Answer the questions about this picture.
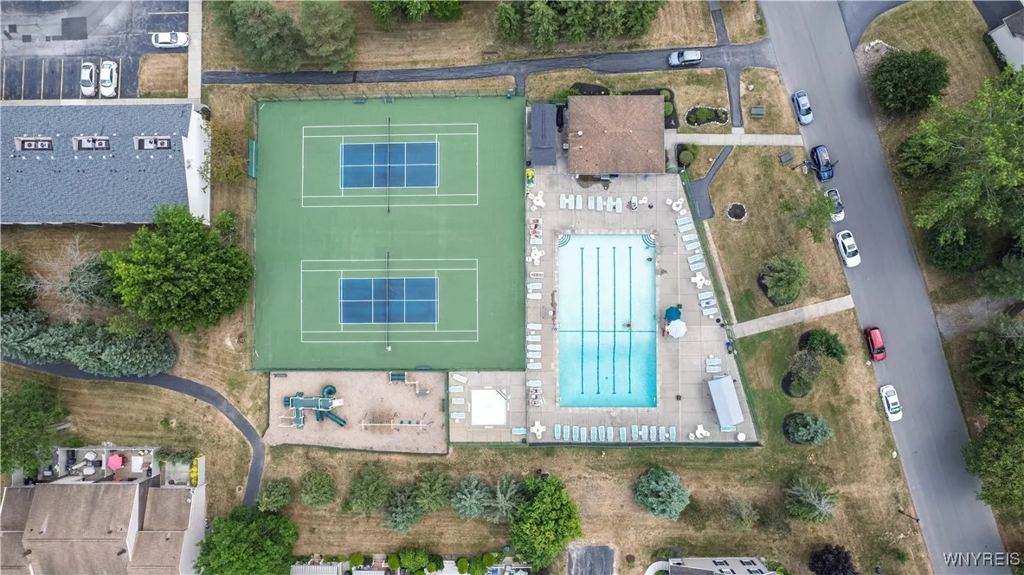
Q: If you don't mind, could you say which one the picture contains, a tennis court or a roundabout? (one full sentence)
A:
The image shows a tennis court.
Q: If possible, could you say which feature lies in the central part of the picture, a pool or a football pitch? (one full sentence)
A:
It is a pool that can be seen in the central part of the picture.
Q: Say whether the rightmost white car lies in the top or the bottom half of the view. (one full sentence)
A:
It is in the bottom half that the rightmost white car appears.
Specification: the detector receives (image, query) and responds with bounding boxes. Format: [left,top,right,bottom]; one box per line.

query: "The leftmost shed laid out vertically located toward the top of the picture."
[531,102,557,168]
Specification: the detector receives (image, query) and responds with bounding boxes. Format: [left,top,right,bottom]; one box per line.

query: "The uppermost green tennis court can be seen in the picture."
[256,95,525,234]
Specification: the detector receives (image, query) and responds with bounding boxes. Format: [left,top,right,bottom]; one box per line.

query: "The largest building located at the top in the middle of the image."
[567,94,666,177]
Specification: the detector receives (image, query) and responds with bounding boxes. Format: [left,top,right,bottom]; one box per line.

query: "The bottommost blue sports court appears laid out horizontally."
[339,277,439,324]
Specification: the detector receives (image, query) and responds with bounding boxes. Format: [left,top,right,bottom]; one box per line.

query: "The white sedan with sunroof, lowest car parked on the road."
[877,383,902,422]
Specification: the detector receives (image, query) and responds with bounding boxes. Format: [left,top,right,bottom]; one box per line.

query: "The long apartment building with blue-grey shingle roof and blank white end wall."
[0,102,211,228]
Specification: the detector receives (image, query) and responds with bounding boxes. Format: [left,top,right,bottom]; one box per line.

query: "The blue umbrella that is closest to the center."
[664,305,681,321]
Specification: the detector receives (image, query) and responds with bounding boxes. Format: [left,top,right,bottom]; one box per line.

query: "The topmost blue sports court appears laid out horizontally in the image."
[340,142,439,189]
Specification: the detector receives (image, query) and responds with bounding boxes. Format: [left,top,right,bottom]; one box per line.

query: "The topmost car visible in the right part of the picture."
[667,49,703,67]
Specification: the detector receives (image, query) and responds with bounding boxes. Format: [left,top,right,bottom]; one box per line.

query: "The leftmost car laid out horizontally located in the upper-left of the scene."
[152,31,189,49]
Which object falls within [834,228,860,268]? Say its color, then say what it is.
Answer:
white car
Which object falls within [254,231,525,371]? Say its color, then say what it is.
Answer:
green tennis court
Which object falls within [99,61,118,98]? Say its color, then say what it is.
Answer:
white car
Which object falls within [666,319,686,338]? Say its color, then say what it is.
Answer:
white umbrella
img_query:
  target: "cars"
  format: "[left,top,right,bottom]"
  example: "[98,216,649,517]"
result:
[823,187,846,223]
[790,88,814,126]
[79,63,99,98]
[834,228,860,268]
[862,325,886,362]
[99,61,118,98]
[877,383,902,422]
[807,143,837,181]
[667,49,703,67]
[152,31,189,49]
